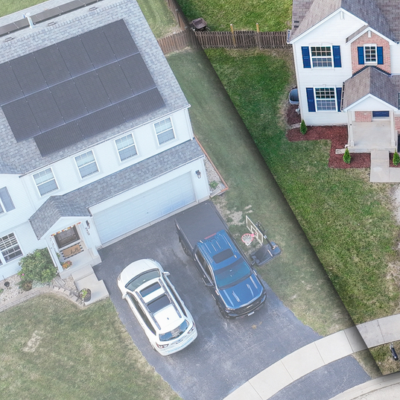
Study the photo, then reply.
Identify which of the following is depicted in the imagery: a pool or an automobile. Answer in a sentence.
Visible in the photo is an automobile.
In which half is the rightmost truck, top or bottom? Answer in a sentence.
It is in the bottom half that the rightmost truck appears.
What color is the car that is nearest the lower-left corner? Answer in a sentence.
The color of the car that is nearest the lower-left corner is white.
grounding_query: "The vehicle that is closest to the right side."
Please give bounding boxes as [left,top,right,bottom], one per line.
[176,204,267,323]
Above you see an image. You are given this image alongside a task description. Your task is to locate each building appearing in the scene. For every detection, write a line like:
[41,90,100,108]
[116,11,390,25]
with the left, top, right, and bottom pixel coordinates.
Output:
[0,0,225,302]
[289,0,400,166]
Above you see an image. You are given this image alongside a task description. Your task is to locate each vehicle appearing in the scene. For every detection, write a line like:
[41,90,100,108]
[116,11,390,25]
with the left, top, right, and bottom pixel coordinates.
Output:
[125,257,198,360]
[176,204,267,323]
